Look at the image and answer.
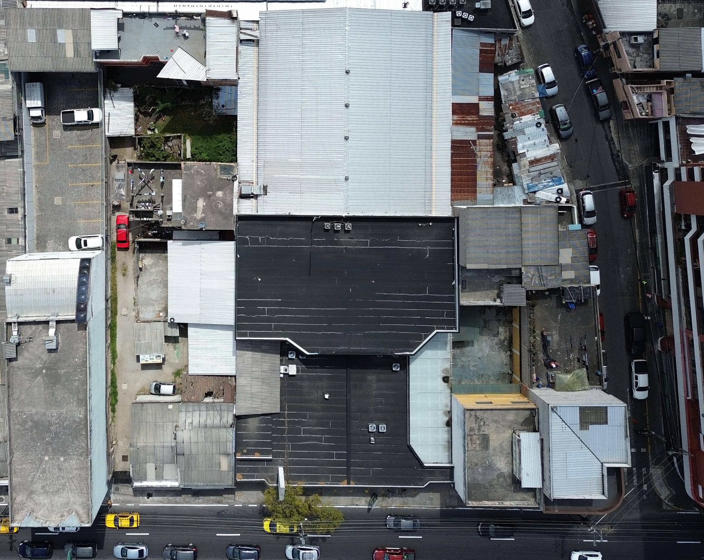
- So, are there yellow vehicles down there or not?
Yes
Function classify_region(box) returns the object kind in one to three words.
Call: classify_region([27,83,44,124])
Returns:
vehicle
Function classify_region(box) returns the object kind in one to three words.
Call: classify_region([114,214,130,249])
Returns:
car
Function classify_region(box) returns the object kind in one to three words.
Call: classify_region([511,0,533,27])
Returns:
car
